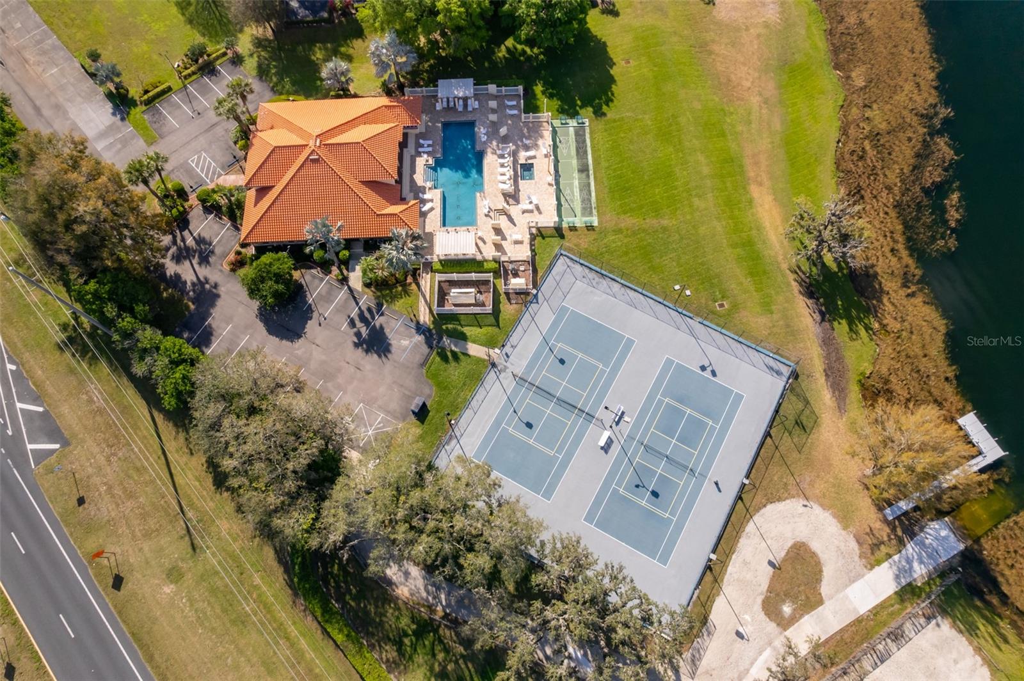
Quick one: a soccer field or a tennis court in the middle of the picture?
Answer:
tennis court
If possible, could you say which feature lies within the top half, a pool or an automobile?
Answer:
pool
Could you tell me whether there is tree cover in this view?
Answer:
Yes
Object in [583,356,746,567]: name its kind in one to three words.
tennis court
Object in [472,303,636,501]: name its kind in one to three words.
tennis court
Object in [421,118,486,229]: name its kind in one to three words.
swimming pool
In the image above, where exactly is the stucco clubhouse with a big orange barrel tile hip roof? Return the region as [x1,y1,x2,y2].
[240,94,433,249]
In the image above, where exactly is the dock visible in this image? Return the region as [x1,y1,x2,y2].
[883,408,1015,521]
